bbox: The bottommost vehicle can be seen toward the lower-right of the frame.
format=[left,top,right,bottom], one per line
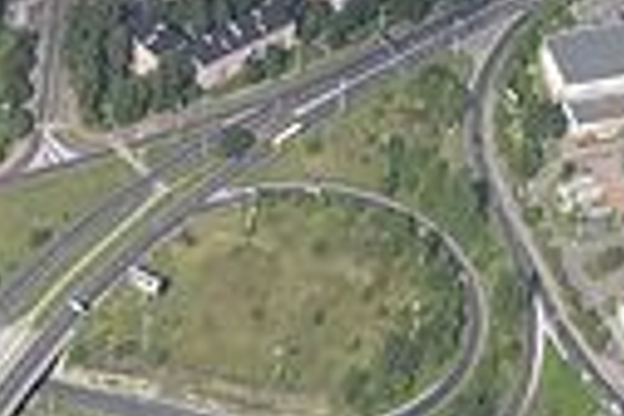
[607,399,623,416]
